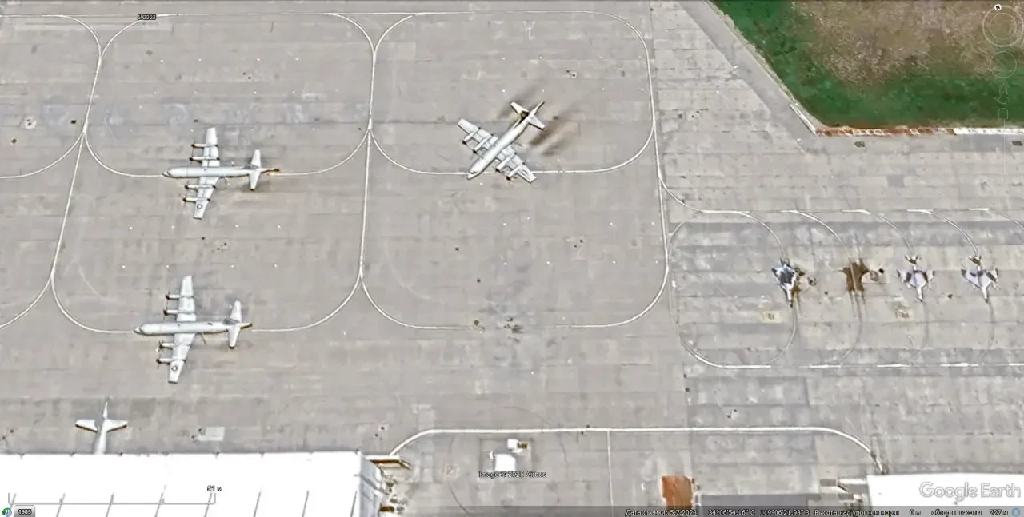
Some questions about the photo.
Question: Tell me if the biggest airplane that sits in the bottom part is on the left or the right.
left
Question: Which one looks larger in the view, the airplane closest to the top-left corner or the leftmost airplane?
the airplane closest to the top-left corner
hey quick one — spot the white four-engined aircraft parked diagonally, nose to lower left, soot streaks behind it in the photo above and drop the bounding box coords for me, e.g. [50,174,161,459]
[457,101,547,180]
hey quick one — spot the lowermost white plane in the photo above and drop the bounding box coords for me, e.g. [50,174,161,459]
[76,398,129,460]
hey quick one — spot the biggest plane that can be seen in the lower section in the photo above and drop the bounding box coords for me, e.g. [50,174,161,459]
[134,275,252,383]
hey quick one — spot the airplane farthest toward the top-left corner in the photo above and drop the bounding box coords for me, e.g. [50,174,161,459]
[164,124,280,217]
